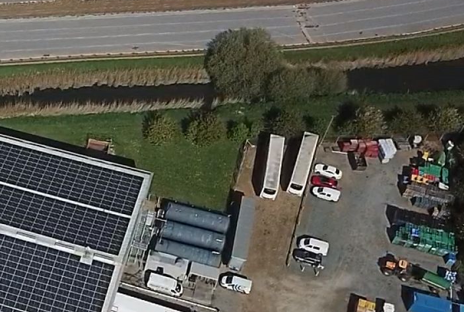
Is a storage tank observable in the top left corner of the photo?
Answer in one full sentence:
No, I see no storage tank in the top left corner of the photo.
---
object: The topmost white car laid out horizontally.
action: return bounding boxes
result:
[313,164,341,180]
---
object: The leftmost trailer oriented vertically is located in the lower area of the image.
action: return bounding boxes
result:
[228,193,258,267]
